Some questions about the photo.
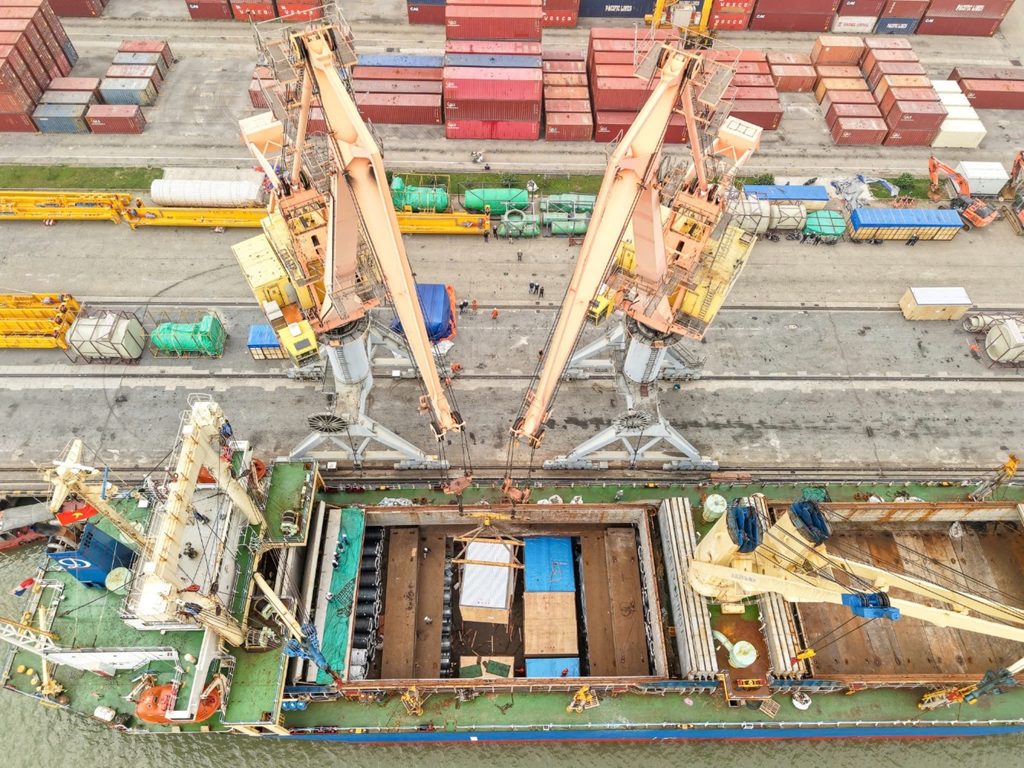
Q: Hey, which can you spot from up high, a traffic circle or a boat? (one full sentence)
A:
Of the two, only a boat appears.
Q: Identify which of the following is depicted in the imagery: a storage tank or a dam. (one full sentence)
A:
I can see a storage tank in this picture.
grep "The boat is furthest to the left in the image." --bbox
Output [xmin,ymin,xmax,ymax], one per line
[0,485,80,563]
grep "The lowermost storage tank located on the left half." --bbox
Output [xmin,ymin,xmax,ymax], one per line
[57,311,148,365]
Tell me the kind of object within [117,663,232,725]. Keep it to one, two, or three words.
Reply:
boat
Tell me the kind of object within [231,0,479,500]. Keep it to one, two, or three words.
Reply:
container crane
